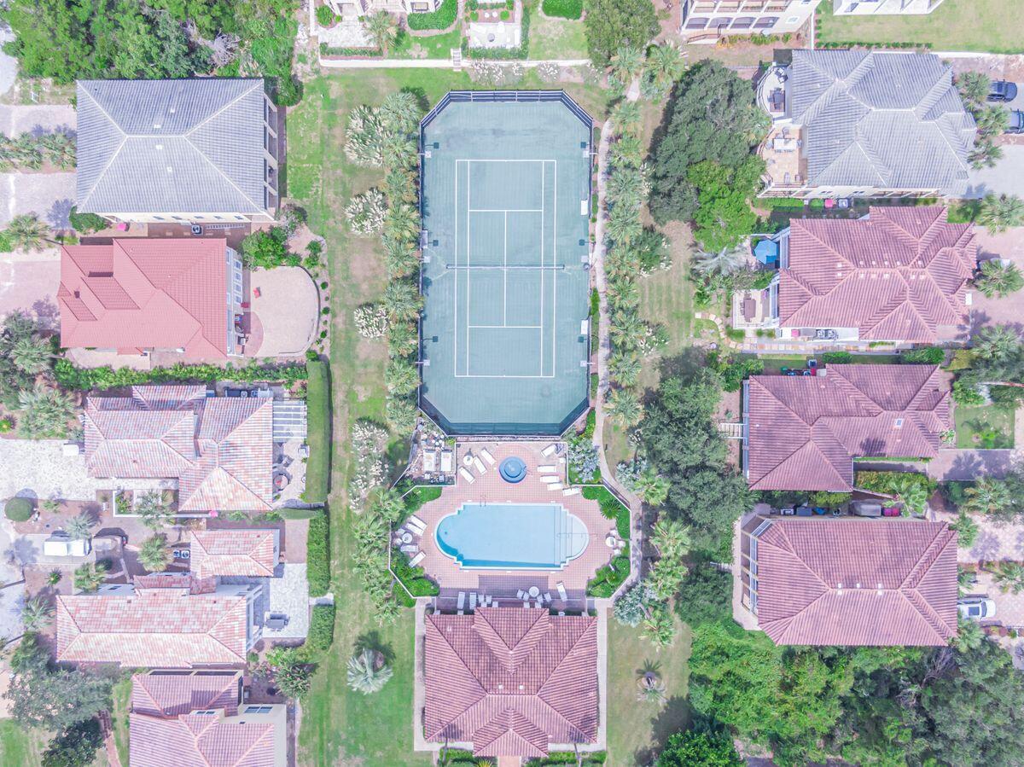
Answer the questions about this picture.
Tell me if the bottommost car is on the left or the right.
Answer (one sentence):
You can find the bottommost car on the right side of the picture.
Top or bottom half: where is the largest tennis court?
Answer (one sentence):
You can find the largest tennis court in the top half.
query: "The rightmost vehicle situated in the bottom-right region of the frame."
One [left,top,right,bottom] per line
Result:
[957,598,999,621]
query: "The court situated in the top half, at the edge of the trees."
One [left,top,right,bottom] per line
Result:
[424,102,588,432]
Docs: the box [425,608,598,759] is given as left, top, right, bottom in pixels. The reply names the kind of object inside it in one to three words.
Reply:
building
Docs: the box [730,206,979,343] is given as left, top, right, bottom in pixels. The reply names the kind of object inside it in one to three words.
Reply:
house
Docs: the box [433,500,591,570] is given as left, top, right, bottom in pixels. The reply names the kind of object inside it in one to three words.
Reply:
swimming pool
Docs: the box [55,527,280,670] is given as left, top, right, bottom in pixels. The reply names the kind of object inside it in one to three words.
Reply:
house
